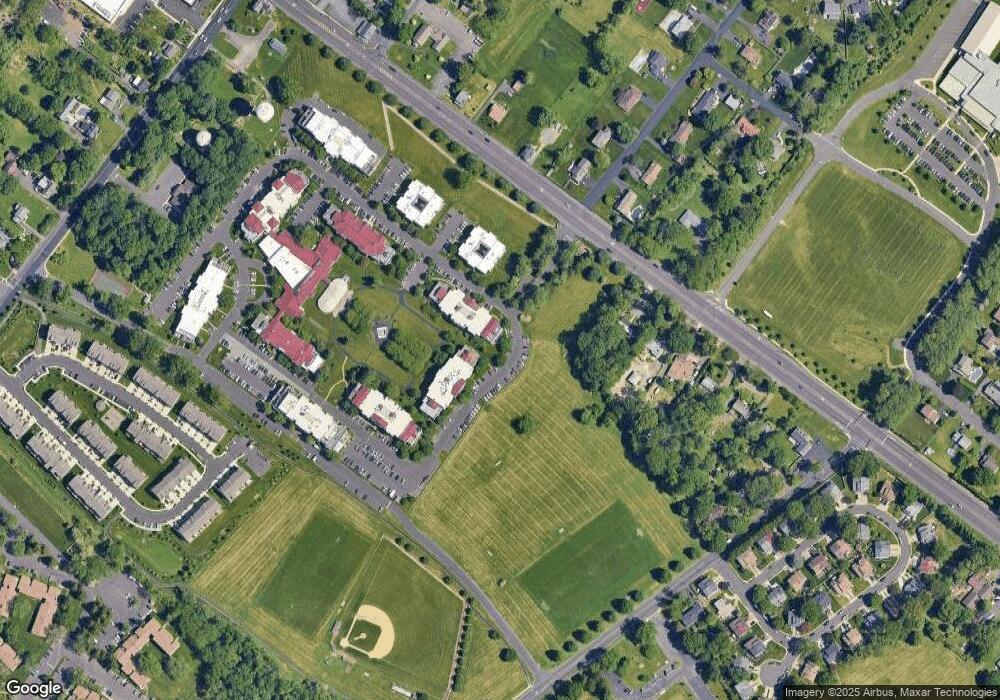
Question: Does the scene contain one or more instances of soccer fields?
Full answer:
Yes, a soccer field is visible in the scene.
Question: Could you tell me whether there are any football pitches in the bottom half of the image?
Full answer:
Yes, looking in the bottom half of the image, one can make out a football pitch.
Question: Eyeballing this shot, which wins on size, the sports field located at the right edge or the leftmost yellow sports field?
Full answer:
Compared with the leftmost yellow sports field, the sports field located at the right edge is the bigger one.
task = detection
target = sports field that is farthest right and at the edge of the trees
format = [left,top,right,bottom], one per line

[734,164,964,382]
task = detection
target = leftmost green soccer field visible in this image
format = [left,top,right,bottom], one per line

[257,499,373,635]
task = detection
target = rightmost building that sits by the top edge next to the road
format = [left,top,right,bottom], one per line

[938,2,1000,132]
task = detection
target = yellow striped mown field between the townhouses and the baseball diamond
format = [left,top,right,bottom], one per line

[194,468,384,664]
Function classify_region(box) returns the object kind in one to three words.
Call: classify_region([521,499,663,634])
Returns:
soccer field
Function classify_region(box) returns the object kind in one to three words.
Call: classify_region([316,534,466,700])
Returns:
baseball field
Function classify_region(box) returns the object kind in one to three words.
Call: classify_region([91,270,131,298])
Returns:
sports court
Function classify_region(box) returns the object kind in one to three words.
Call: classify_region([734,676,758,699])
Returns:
house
